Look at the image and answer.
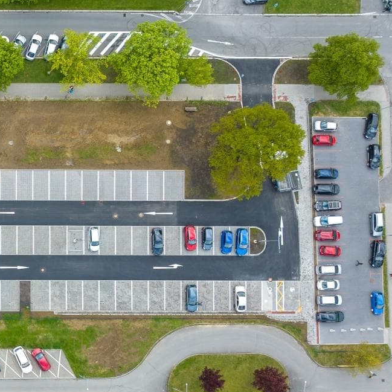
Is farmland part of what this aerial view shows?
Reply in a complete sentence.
No, there is no farmland in the image.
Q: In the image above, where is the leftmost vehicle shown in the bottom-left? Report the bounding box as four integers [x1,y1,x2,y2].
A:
[12,344,32,374]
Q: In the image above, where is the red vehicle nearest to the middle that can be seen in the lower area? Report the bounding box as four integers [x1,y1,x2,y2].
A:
[181,224,197,252]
